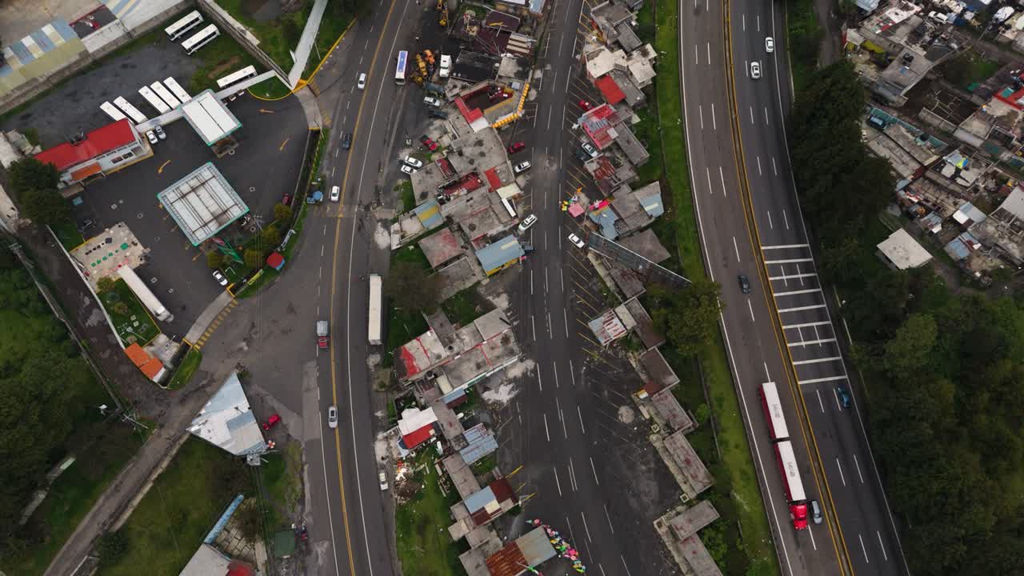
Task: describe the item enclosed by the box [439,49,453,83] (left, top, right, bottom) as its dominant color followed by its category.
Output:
white vehicle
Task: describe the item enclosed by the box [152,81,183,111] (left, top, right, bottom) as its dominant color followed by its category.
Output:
white bus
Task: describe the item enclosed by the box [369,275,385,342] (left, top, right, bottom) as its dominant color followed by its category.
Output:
white trailer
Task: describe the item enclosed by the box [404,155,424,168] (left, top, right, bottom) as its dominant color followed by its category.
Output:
white vehicle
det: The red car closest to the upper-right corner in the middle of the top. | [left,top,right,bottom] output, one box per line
[577,99,595,113]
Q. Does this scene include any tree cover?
Yes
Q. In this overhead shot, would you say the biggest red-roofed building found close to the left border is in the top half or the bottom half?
top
